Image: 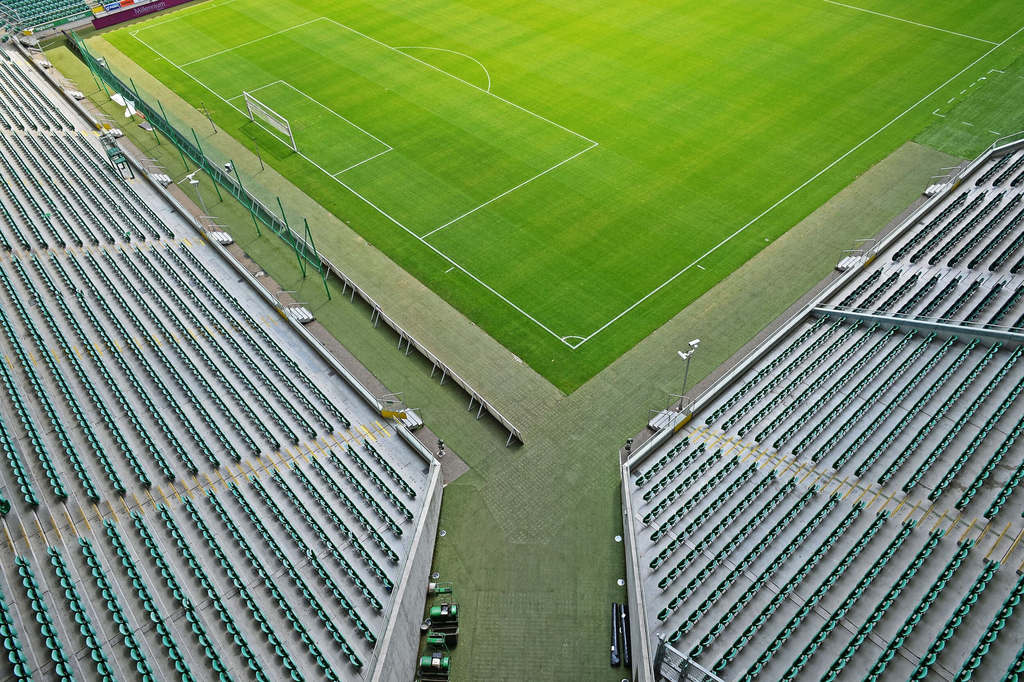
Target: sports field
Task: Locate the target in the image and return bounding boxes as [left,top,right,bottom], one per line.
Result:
[98,0,1024,397]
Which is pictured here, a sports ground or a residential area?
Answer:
sports ground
